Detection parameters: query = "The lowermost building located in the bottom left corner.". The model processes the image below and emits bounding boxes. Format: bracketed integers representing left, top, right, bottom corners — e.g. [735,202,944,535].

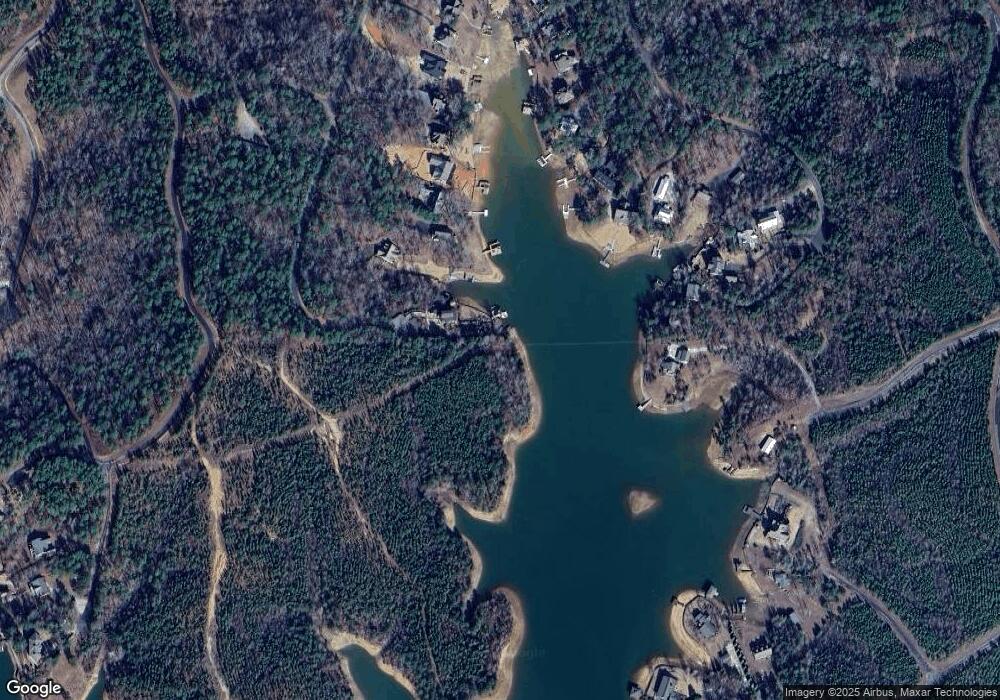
[24,638,45,667]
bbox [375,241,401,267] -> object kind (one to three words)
house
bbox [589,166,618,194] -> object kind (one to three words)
house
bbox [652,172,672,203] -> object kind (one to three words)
barn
